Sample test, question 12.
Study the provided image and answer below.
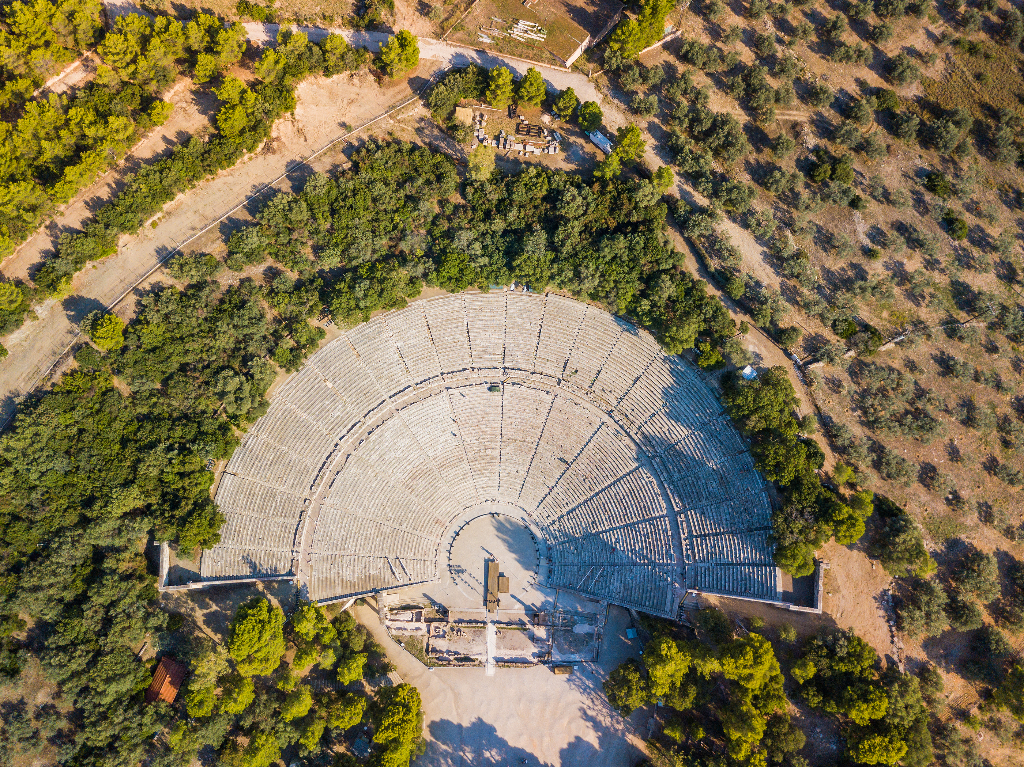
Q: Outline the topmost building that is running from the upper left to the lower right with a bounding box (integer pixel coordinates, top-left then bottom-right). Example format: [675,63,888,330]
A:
[497,0,588,69]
